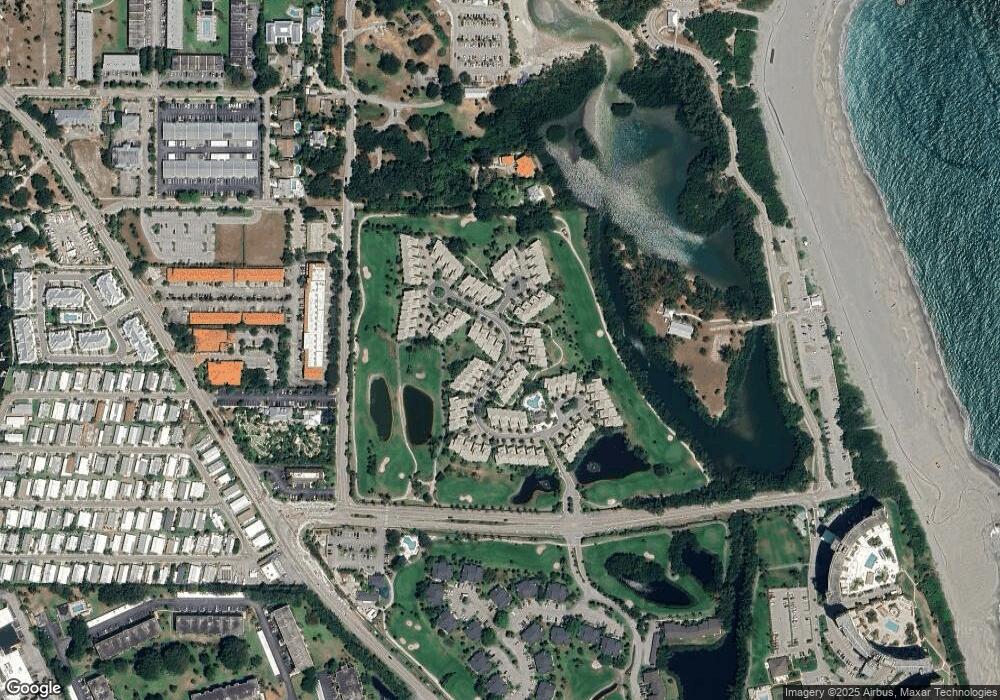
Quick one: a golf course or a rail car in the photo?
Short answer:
golf course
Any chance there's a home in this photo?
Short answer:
Yes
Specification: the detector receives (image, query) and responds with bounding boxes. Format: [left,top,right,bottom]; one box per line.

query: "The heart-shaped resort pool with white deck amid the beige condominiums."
[524,391,545,412]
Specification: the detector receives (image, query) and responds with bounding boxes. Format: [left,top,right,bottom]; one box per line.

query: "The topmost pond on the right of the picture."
[527,0,752,290]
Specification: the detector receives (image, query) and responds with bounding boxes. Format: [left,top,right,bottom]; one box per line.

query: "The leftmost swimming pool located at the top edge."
[200,17,217,41]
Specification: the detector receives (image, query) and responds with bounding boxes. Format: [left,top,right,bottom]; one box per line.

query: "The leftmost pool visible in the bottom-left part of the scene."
[69,599,90,617]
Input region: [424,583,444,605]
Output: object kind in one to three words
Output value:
house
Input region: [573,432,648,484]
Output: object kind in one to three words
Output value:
pond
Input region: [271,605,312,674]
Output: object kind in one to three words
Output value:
building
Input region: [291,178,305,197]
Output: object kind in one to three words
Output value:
swimming pool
